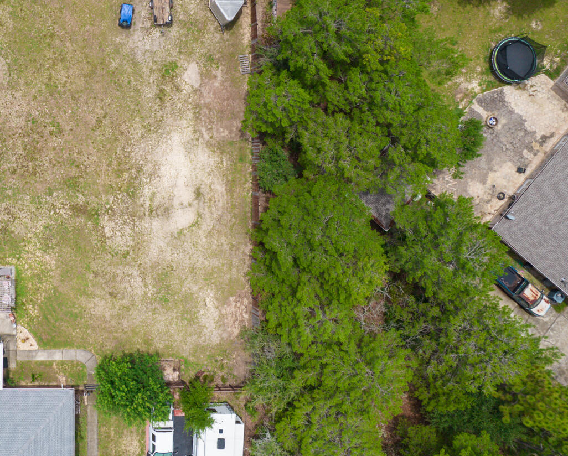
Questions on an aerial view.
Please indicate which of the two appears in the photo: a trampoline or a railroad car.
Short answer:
trampoline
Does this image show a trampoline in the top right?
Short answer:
Yes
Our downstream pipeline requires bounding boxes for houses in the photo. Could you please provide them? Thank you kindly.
[0,382,75,456]
[481,123,568,303]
